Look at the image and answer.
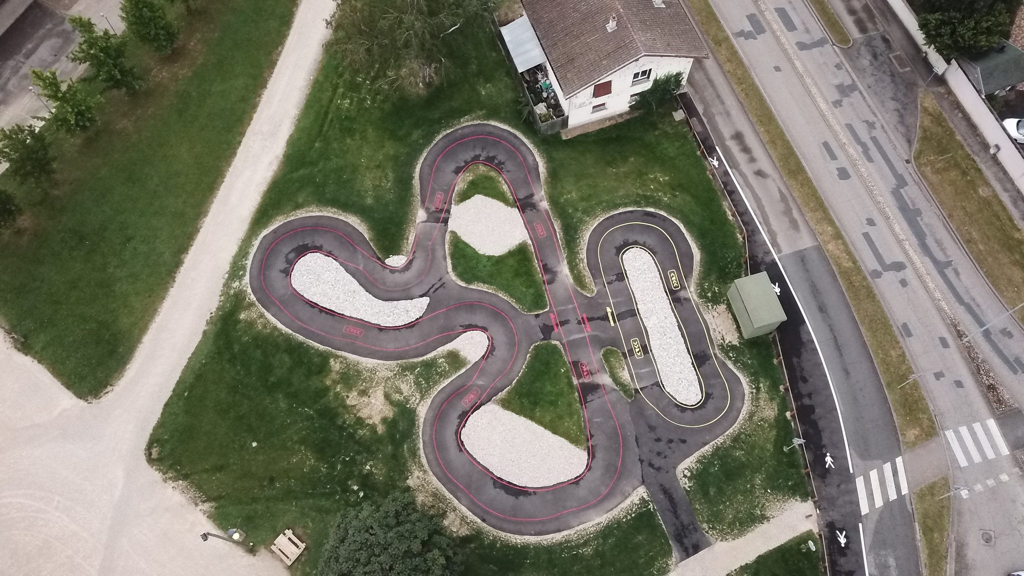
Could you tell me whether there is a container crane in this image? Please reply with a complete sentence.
No, the frame has no container crane in it.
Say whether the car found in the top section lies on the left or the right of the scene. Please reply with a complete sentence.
You can find the car found in the top section on the right side of the picture.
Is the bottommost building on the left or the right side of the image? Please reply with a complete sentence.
You can find the bottommost building on the right side of the picture.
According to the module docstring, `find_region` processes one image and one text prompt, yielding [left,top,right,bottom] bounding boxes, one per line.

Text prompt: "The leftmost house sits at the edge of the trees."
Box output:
[510,0,711,127]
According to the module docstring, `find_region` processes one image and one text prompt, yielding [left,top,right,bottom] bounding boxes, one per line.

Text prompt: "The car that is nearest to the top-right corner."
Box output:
[1004,116,1024,143]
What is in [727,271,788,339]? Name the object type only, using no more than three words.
building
